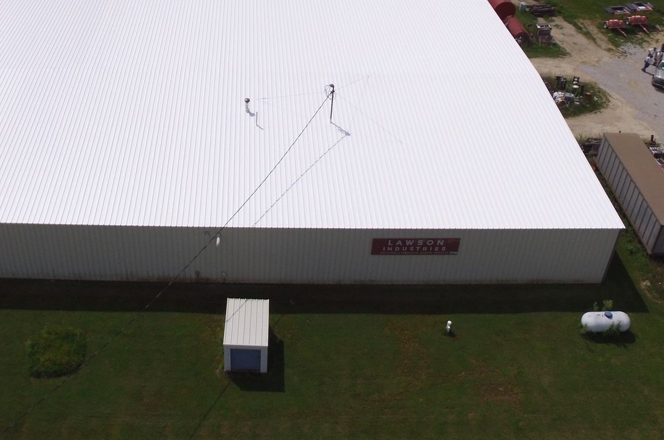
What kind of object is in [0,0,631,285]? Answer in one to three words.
warehouse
